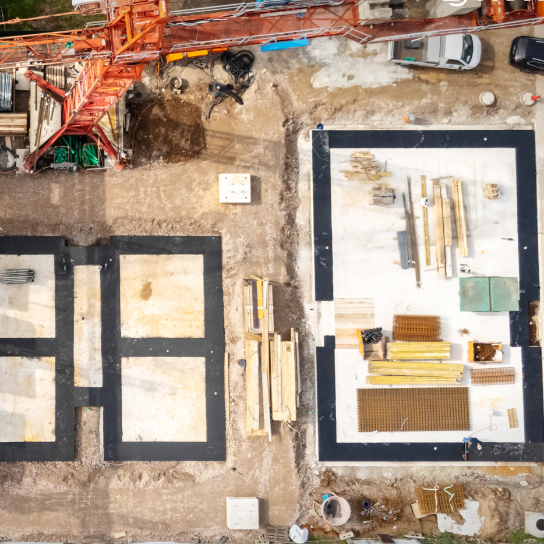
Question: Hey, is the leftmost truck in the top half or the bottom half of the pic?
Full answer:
It is in the top half that the leftmost truck appears.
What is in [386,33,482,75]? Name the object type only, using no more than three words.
truck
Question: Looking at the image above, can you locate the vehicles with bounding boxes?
[386,33,482,75]
[509,34,544,76]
